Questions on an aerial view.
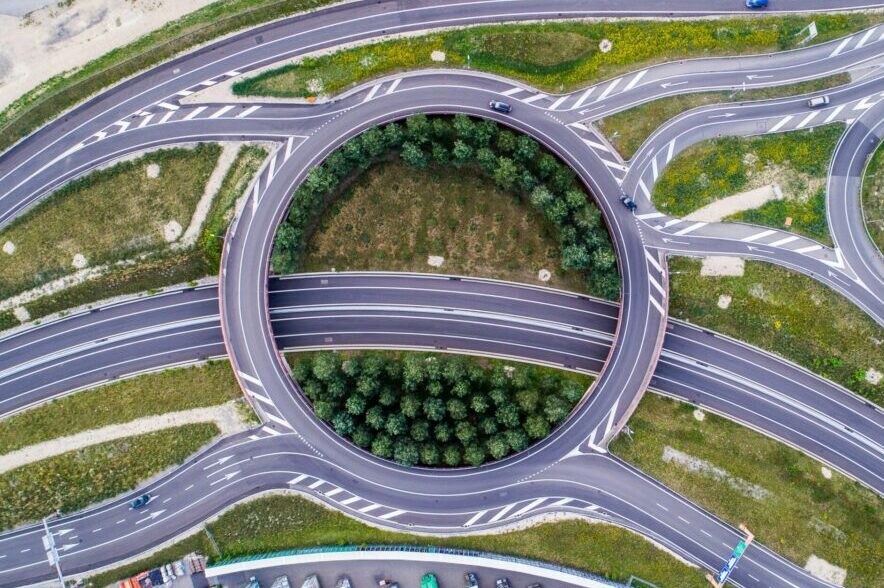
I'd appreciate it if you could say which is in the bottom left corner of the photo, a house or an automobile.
automobile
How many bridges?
2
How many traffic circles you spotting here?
1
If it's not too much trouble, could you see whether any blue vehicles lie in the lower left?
Yes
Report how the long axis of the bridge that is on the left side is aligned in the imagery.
from top to bottom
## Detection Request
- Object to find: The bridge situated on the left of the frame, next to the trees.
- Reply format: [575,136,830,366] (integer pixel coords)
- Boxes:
[218,218,287,415]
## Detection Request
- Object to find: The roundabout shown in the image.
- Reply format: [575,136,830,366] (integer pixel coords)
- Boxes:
[224,68,666,495]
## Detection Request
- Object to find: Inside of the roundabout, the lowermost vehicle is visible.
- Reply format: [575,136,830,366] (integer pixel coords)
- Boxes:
[617,193,639,212]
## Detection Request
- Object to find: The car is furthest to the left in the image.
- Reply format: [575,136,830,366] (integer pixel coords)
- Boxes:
[128,493,152,511]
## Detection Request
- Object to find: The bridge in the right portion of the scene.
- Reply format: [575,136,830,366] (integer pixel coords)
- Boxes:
[586,253,672,444]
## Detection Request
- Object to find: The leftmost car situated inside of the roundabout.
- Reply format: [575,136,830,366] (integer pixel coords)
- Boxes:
[489,99,512,113]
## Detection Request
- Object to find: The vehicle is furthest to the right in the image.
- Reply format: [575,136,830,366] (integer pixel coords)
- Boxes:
[806,95,830,108]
